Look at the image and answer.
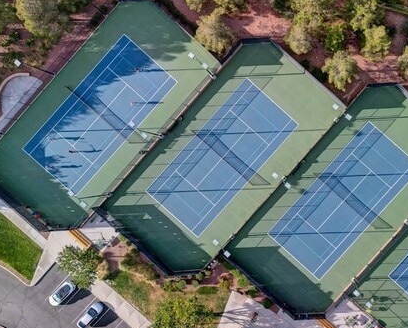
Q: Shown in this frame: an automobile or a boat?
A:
automobile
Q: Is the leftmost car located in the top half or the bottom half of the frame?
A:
bottom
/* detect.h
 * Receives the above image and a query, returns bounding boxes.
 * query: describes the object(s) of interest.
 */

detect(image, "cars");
[77,300,105,328]
[49,279,77,306]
